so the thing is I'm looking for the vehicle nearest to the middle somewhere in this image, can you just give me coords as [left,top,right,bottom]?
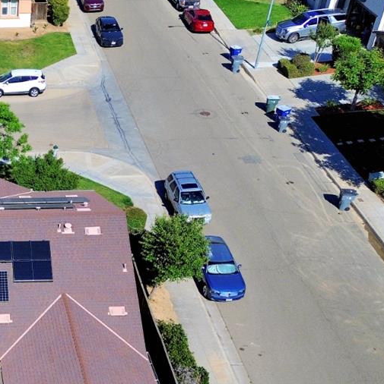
[163,165,211,219]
